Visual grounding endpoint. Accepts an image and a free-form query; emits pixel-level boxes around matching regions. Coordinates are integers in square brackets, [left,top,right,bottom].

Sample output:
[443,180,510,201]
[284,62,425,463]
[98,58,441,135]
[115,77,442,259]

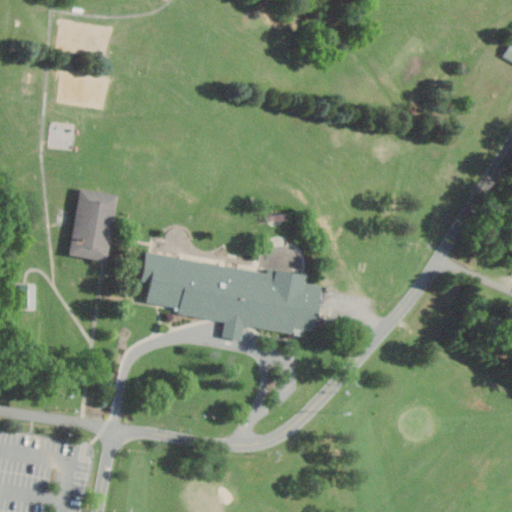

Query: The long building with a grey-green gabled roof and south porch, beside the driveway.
[142,254,321,342]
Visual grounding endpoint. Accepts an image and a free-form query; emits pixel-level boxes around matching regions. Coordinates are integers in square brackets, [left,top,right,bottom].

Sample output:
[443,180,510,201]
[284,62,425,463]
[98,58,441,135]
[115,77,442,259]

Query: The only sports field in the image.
[188,485,234,512]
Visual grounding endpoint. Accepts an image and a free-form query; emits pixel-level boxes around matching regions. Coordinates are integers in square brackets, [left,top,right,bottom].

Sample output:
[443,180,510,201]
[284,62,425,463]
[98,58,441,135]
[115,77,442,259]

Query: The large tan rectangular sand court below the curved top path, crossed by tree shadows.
[56,20,112,110]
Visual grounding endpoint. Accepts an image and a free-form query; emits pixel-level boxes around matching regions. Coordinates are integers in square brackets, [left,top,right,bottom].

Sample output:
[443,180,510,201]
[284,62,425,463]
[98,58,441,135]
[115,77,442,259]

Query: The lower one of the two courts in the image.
[48,122,75,151]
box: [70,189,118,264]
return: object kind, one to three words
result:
building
